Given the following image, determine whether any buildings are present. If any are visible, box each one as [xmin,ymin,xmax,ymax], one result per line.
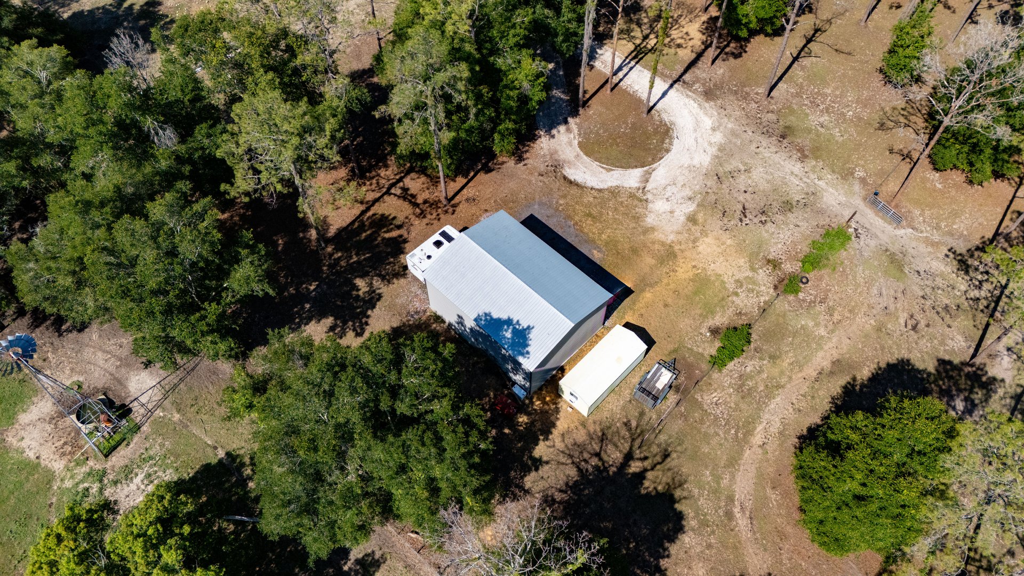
[421,216,616,398]
[560,325,648,417]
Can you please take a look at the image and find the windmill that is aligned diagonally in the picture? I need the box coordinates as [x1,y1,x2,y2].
[0,331,134,455]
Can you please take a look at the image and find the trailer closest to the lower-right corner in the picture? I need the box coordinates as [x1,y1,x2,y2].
[635,358,681,408]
